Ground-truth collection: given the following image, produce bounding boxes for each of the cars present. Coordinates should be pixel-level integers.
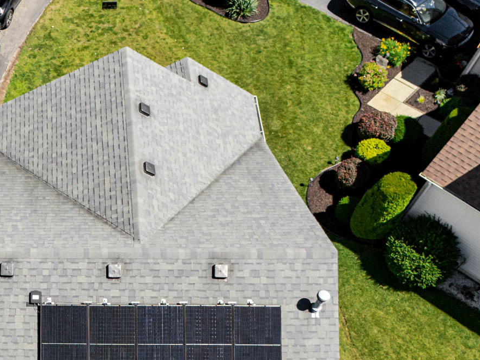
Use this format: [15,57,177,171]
[0,0,19,28]
[347,0,478,62]
[449,0,480,18]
